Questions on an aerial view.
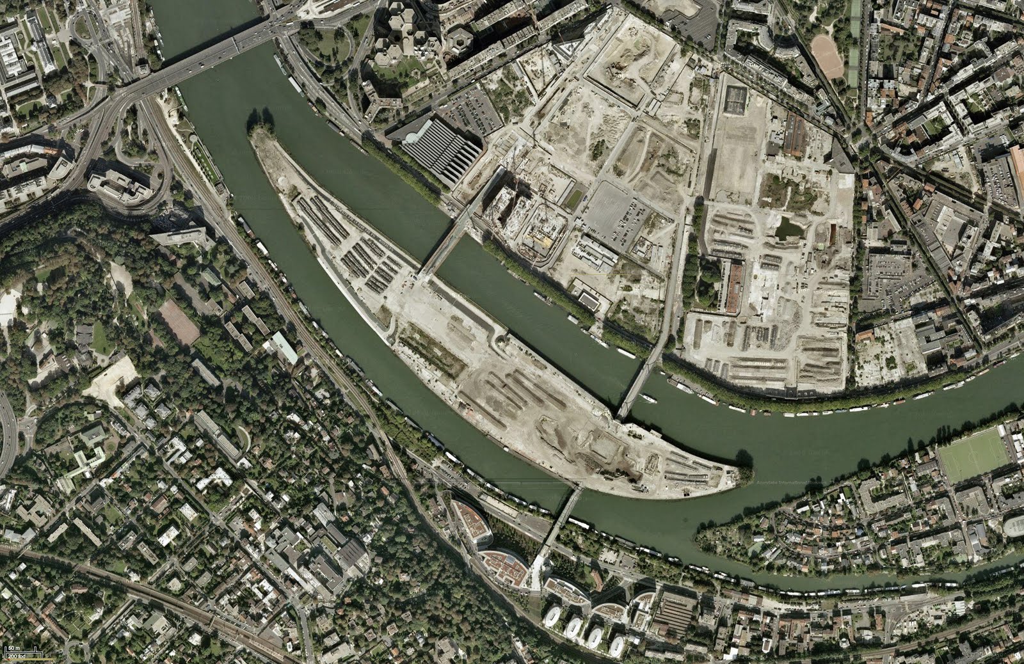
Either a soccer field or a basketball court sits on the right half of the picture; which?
soccer field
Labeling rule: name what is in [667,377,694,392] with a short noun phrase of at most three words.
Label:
boat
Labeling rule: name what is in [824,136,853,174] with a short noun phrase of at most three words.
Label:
shed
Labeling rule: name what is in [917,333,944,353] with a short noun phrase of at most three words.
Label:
building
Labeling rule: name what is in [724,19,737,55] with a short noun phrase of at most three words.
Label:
building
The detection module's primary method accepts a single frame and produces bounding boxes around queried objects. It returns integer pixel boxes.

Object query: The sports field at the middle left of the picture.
[158,299,200,345]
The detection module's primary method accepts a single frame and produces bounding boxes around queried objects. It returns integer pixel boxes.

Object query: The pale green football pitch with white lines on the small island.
[942,429,1008,481]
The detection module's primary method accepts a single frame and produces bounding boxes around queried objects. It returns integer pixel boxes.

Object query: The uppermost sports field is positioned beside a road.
[811,35,844,79]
